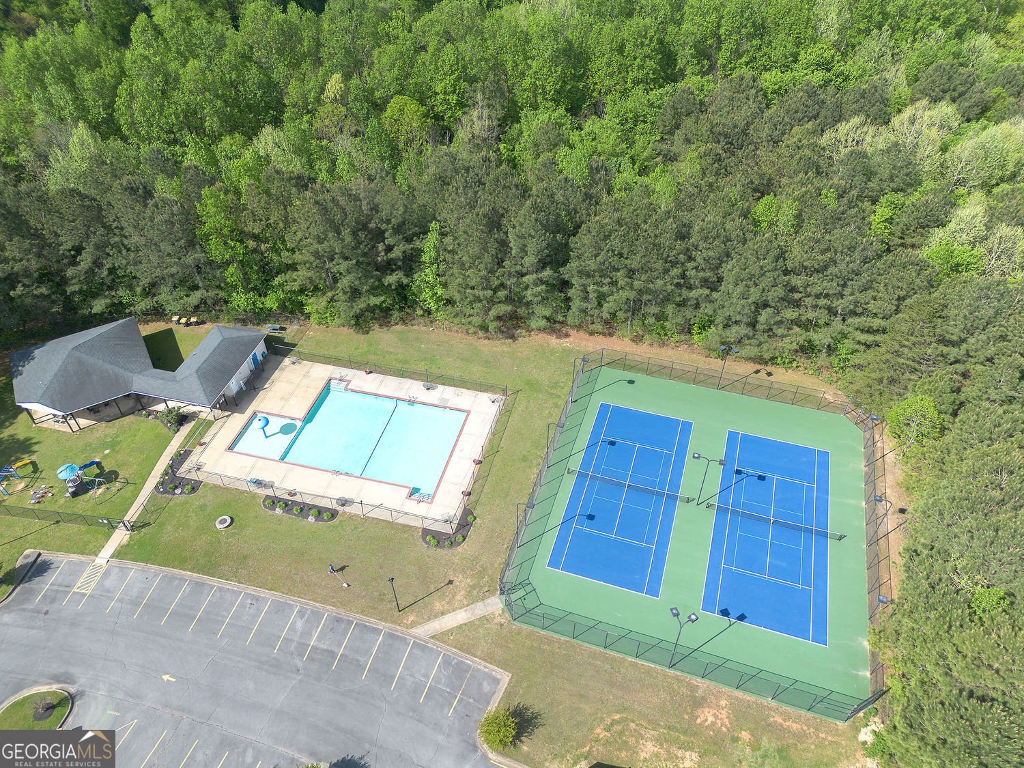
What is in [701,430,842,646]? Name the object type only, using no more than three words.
tennis court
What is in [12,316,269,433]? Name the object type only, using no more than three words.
building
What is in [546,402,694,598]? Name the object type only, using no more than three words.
tennis court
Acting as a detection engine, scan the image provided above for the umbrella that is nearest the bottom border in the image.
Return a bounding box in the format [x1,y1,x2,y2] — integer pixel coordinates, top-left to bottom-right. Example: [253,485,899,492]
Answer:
[252,416,270,440]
